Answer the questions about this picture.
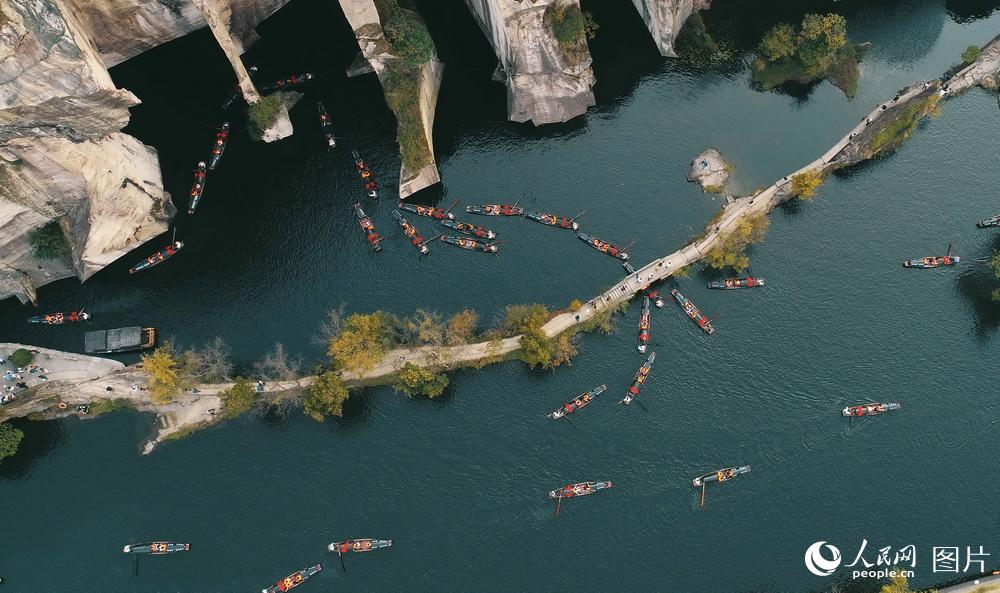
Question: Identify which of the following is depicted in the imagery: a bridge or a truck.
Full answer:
Looking from above, you can make out a bridge.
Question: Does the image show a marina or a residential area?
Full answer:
It's a marina.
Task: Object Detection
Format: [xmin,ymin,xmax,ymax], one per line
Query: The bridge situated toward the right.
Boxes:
[588,236,701,314]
